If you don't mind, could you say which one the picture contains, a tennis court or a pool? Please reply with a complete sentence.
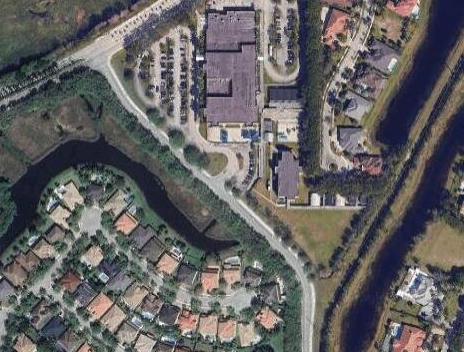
The image shows a pool.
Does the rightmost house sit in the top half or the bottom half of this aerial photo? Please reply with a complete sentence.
The rightmost house is in the bottom half of the image.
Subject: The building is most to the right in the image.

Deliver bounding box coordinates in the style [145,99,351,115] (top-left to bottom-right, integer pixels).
[409,272,444,306]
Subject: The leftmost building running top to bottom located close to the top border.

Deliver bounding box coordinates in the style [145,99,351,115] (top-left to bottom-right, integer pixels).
[204,10,259,123]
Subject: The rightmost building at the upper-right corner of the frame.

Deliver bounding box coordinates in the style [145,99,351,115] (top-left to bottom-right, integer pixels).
[388,0,423,20]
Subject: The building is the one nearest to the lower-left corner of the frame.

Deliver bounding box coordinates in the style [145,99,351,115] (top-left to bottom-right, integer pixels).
[11,331,38,352]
